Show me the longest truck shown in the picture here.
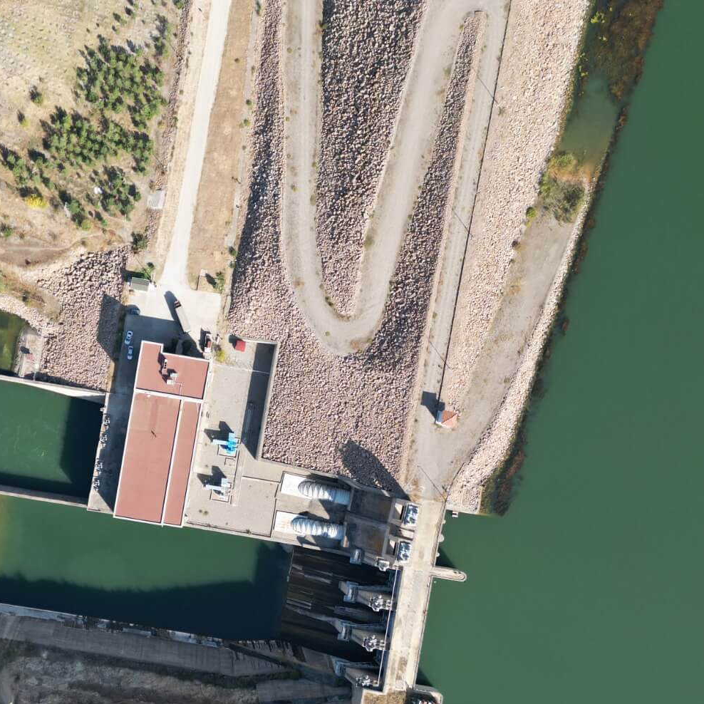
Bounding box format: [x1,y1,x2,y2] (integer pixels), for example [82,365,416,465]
[169,294,192,333]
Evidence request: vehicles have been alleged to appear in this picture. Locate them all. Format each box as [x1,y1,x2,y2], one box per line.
[127,345,133,360]
[125,330,133,344]
[169,294,192,333]
[128,307,141,315]
[204,331,213,352]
